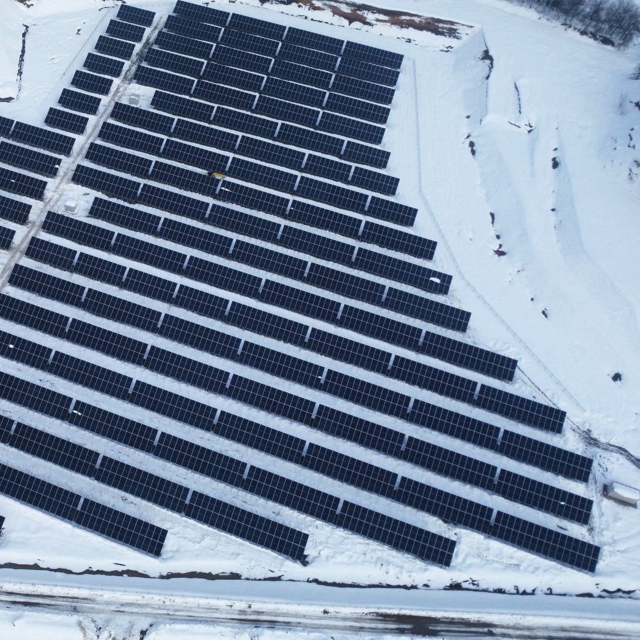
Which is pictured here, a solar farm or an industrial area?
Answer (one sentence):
The picture captures a solar farm.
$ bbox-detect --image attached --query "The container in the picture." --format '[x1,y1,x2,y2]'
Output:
[603,481,640,509]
